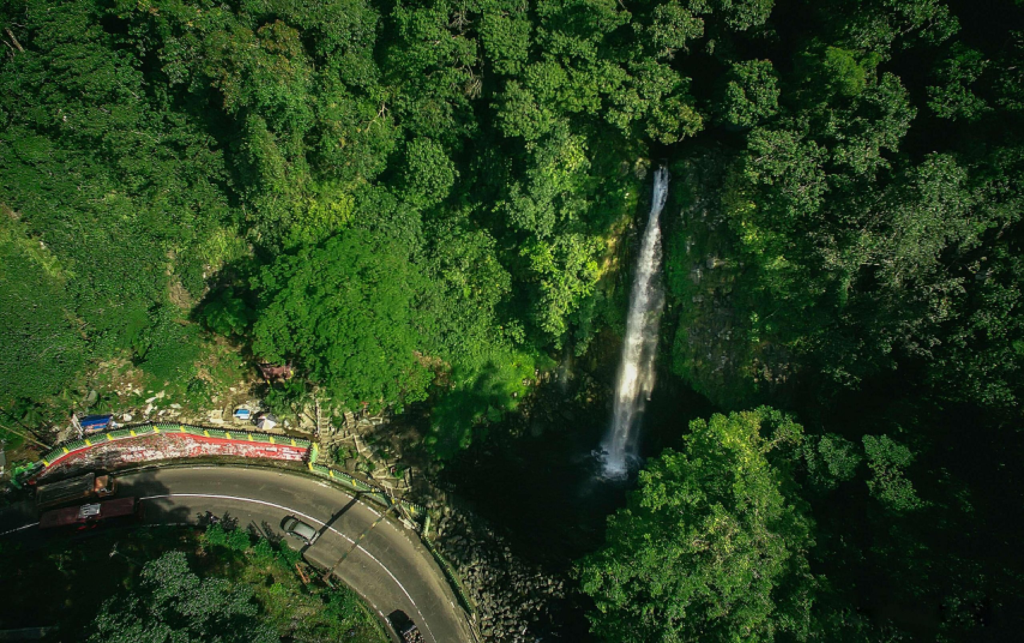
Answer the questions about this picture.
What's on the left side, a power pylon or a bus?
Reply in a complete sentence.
Visible on the left side is a bus.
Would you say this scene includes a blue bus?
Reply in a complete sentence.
No, this view has no blue bus in it.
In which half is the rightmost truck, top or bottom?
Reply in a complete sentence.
The rightmost truck sits in the bottom half of the picture.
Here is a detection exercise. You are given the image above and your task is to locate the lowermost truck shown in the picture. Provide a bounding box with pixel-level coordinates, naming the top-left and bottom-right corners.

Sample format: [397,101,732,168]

[391,606,427,643]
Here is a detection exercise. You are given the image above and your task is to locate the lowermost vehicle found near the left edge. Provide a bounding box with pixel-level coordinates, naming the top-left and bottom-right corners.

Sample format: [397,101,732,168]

[41,496,148,539]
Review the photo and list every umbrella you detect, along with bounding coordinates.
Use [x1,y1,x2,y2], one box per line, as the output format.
[255,411,277,430]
